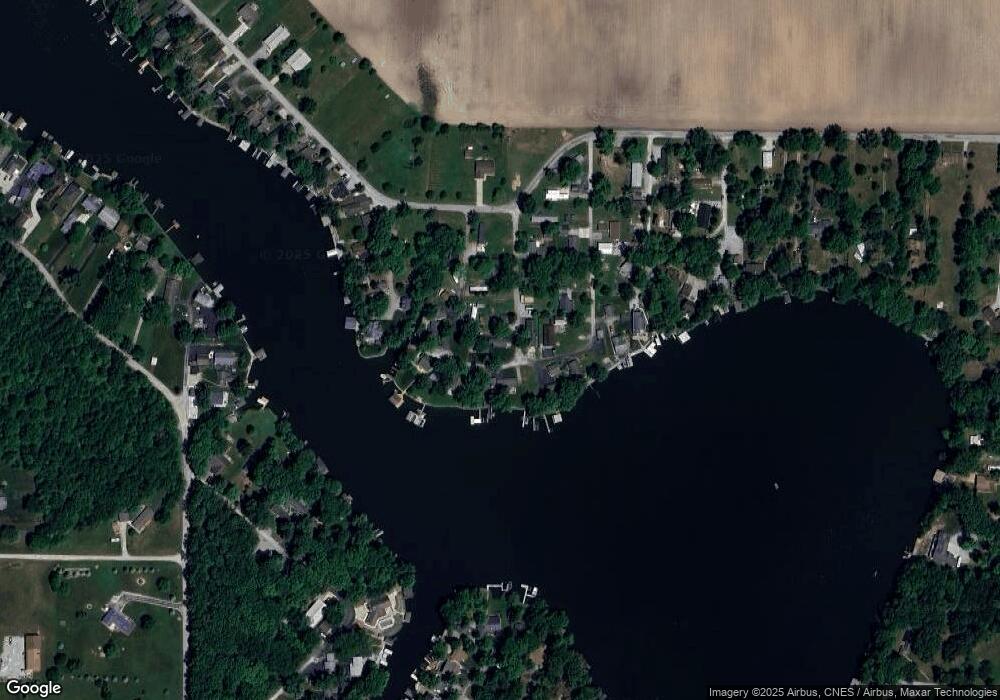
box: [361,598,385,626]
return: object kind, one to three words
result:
house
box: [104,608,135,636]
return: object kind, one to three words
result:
house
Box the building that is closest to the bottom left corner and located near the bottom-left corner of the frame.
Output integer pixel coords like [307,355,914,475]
[24,635,39,672]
